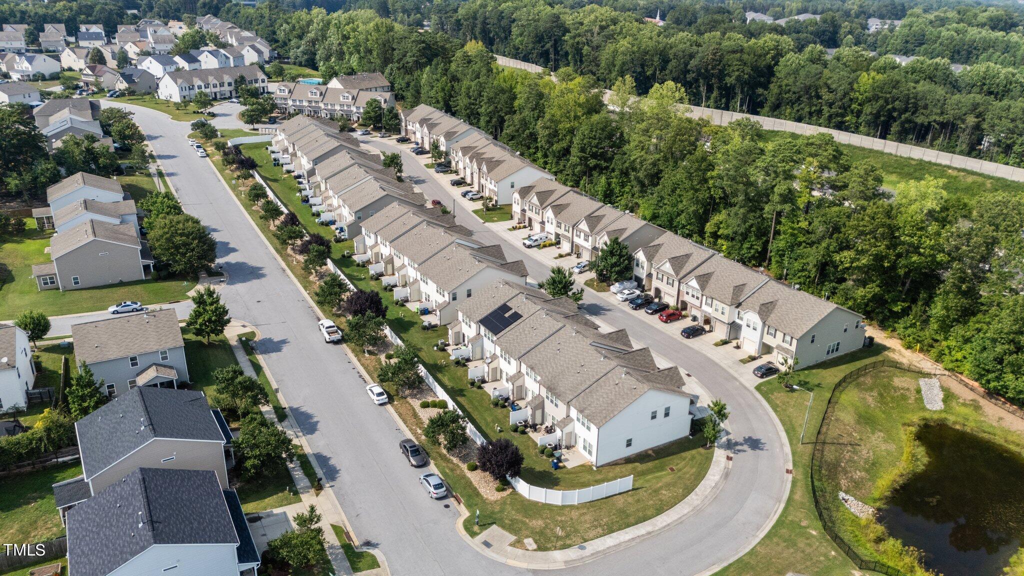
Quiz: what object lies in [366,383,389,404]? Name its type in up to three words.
car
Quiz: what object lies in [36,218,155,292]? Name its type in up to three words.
house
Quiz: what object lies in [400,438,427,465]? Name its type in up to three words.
car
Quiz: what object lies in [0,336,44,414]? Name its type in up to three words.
house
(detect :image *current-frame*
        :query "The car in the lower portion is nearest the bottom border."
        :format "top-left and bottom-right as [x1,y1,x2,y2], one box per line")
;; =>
[419,470,448,499]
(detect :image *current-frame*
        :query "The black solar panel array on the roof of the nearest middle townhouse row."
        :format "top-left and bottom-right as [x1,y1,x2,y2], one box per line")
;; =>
[479,299,523,333]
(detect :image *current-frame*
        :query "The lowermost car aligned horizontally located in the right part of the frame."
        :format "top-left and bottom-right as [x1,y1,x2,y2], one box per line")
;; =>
[750,360,782,375]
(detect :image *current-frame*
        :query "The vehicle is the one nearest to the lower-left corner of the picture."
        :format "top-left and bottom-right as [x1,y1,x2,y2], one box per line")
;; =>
[108,300,140,312]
